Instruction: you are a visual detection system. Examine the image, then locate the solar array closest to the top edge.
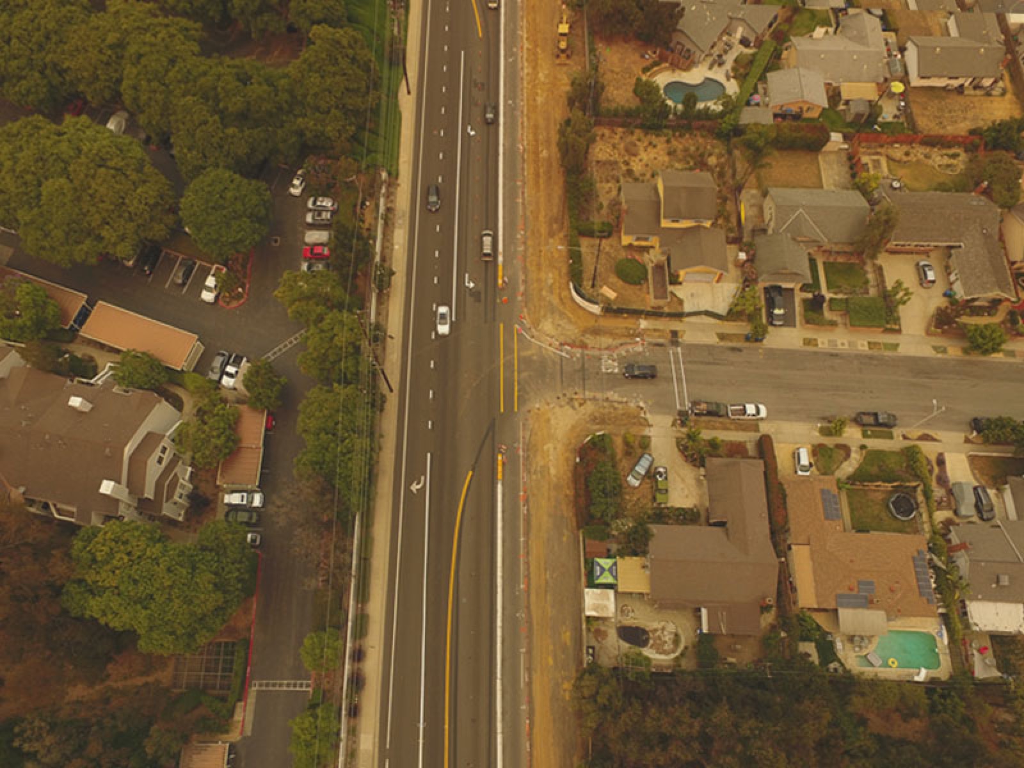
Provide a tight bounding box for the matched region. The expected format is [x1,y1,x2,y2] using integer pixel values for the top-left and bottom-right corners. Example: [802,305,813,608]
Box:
[821,490,840,521]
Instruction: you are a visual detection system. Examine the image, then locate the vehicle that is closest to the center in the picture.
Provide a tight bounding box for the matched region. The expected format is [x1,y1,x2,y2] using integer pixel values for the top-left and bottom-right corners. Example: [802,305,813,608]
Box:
[435,304,450,336]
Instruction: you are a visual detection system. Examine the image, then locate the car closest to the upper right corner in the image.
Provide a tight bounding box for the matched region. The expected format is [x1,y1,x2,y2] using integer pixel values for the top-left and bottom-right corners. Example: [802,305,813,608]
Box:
[917,260,938,288]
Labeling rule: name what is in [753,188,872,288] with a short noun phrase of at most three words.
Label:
house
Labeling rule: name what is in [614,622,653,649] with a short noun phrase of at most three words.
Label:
swimming pool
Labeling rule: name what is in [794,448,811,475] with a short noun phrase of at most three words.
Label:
car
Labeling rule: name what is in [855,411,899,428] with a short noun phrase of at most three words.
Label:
vehicle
